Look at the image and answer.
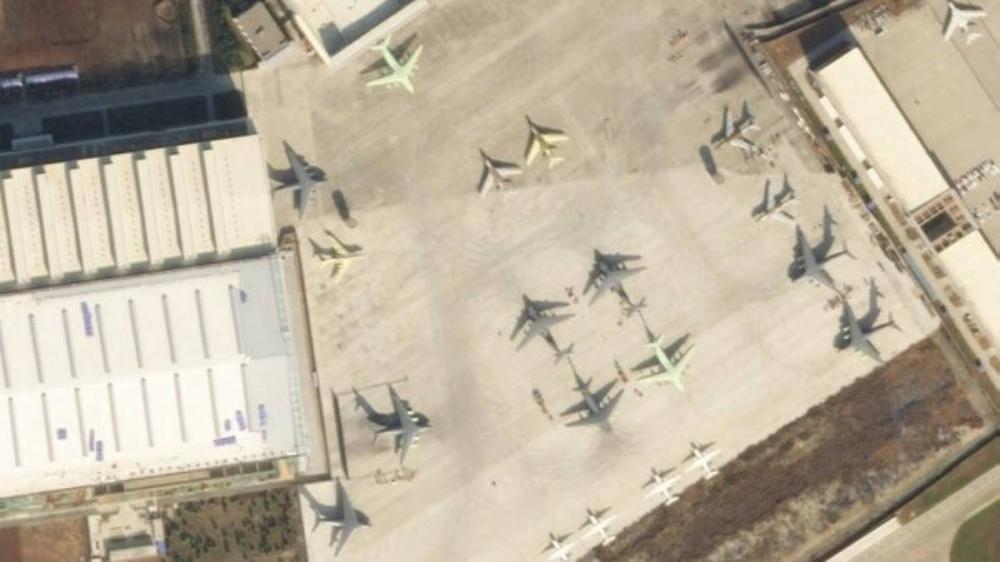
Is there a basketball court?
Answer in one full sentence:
No, the scene contains no basketball court.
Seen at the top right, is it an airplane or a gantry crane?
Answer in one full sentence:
You can see an airplane at the top right.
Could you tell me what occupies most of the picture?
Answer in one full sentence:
What you mostly see from above here is paved ground.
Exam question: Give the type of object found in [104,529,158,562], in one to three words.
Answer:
house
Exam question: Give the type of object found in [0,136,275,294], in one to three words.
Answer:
building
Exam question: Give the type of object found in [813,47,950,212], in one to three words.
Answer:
hangar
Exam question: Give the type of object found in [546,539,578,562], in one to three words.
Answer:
airplane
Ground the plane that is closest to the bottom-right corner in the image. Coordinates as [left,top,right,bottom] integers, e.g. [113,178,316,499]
[831,302,896,365]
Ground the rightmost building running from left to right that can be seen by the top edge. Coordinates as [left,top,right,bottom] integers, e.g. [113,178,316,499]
[280,0,441,67]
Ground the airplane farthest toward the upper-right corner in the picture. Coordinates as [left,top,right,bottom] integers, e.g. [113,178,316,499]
[945,0,986,43]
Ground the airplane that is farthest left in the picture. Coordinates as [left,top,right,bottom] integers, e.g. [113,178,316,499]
[265,151,324,220]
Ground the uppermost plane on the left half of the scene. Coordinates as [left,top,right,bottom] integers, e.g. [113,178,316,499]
[366,32,422,93]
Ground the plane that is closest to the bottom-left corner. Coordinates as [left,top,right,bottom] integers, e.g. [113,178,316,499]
[312,487,372,556]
